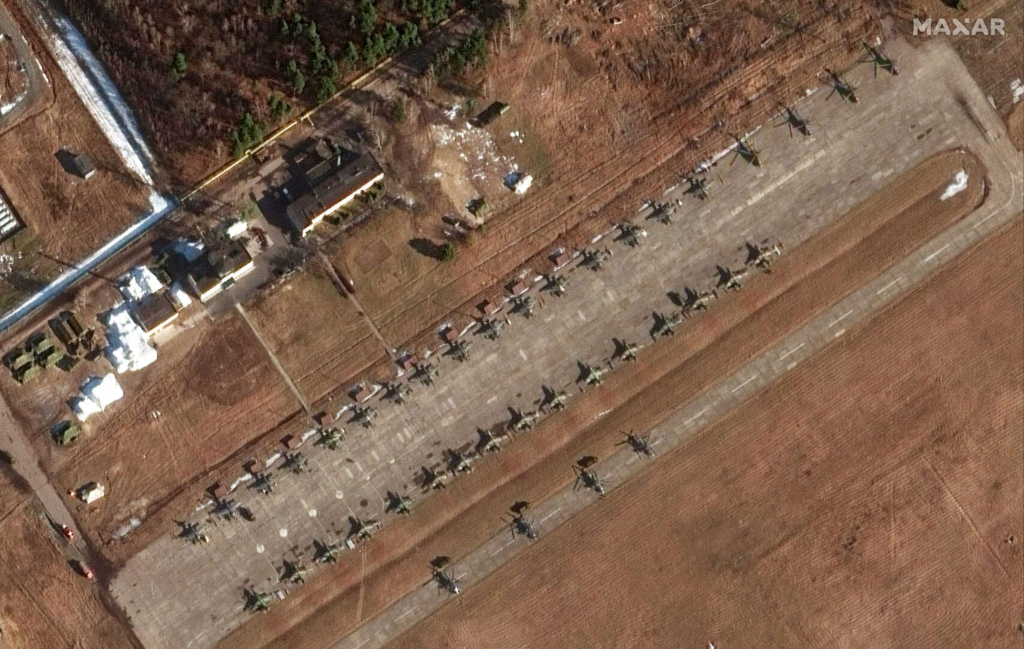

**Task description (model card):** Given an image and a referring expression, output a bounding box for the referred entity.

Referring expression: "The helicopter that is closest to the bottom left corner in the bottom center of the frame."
[433,564,468,595]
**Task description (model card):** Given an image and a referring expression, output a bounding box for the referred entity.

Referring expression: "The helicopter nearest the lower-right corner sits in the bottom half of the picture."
[629,429,663,461]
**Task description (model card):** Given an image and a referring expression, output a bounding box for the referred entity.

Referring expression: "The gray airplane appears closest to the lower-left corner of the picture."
[183,521,209,546]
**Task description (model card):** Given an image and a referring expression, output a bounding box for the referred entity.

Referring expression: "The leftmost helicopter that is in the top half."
[732,135,774,170]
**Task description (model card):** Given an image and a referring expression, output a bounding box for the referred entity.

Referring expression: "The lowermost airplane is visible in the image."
[248,588,275,612]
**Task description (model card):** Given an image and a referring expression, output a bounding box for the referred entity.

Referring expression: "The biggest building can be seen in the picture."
[285,152,386,237]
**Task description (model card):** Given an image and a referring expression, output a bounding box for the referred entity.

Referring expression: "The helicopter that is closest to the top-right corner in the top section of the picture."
[864,44,905,80]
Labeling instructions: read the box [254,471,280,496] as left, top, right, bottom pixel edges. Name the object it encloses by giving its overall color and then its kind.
gray airplane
